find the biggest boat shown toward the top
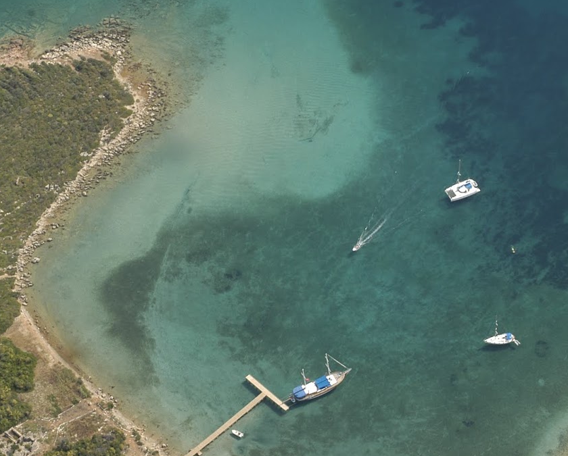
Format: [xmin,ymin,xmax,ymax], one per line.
[446,160,481,203]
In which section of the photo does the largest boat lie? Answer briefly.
bottom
